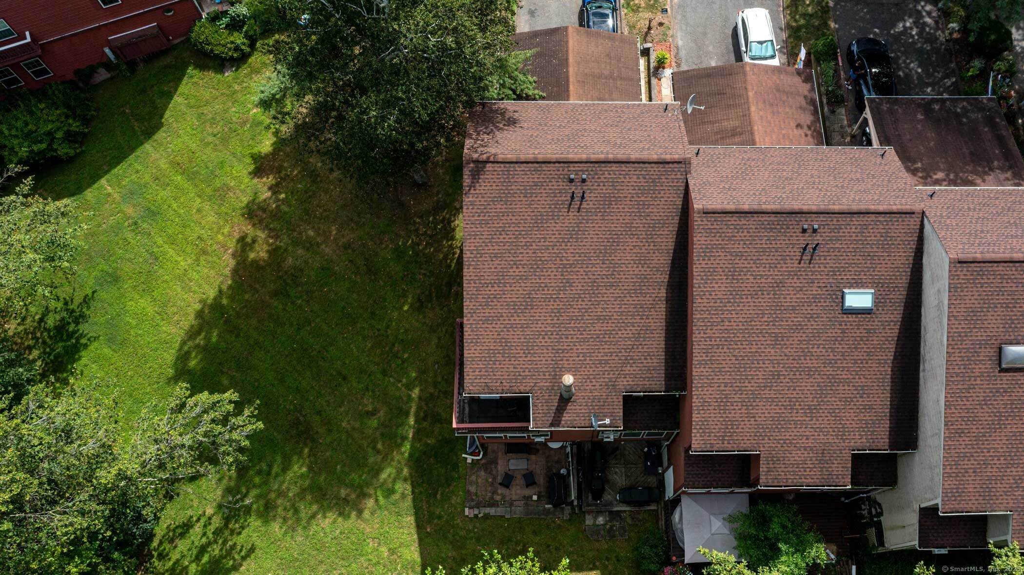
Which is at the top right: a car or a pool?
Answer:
car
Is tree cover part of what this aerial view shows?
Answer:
Yes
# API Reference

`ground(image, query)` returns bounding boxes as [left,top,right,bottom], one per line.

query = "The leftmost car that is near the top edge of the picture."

[578,0,622,35]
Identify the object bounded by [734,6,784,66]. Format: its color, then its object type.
white car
